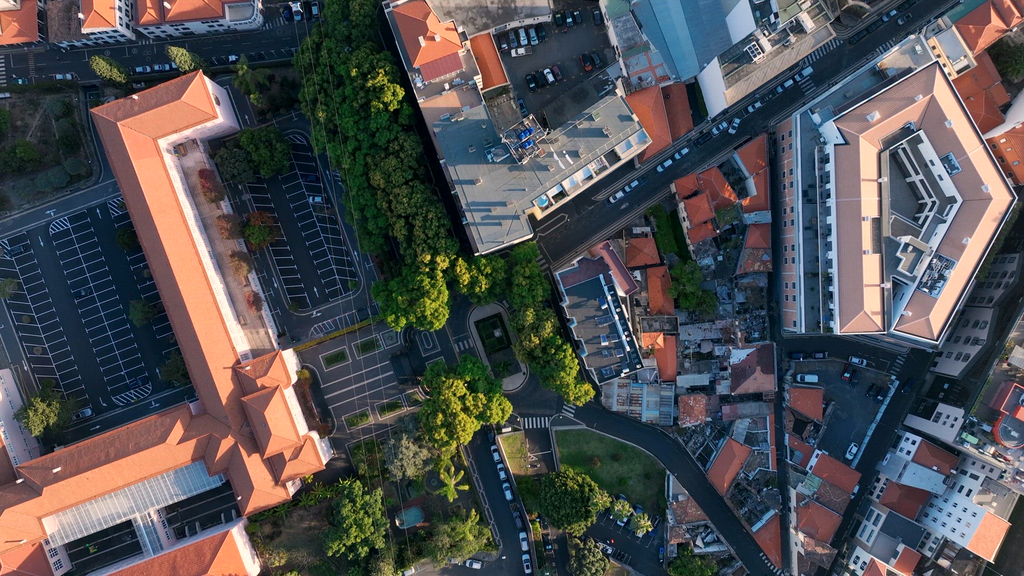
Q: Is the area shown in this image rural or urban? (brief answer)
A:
urban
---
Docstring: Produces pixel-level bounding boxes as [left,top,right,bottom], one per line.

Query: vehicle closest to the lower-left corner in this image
[78,407,95,420]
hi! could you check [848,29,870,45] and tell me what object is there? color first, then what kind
black vehicle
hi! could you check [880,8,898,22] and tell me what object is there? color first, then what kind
blue car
